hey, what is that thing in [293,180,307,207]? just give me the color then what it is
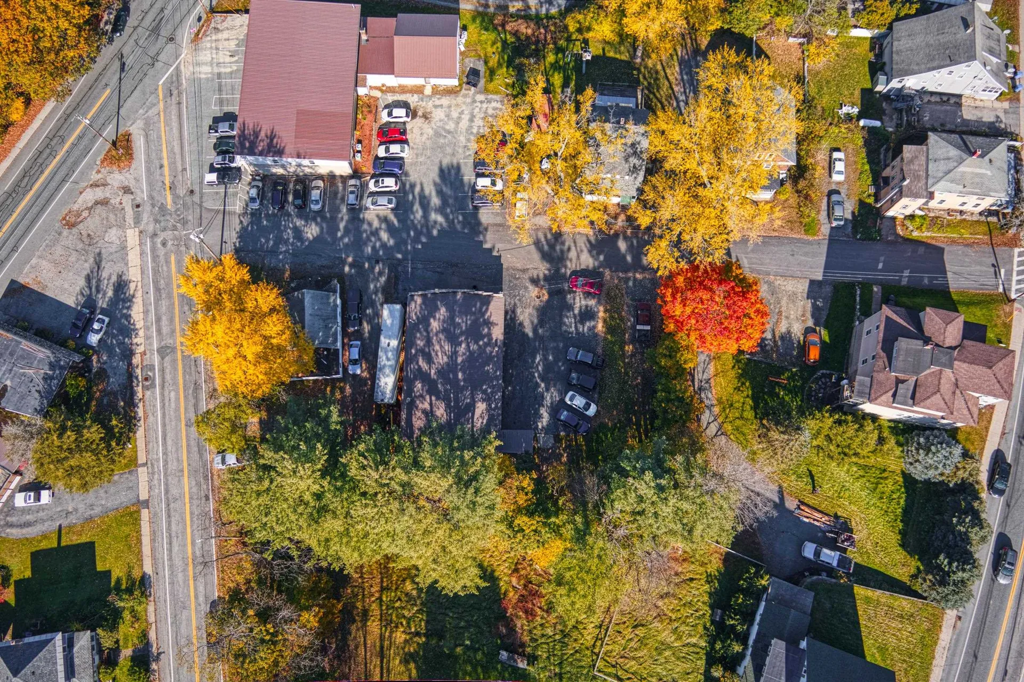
black car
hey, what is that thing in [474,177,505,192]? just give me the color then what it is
white car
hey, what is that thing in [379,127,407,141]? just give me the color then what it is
red car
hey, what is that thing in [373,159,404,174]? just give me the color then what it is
blue car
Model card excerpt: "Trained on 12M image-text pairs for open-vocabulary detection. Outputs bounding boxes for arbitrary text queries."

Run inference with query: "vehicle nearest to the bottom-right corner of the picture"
[993,545,1015,584]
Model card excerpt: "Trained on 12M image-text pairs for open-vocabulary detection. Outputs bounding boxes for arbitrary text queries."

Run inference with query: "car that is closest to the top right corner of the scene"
[828,152,845,181]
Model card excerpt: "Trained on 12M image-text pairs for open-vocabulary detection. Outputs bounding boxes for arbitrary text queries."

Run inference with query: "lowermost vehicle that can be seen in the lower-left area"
[14,489,56,507]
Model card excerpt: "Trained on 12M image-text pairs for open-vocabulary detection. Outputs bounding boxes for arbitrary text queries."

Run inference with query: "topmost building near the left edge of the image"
[0,323,96,418]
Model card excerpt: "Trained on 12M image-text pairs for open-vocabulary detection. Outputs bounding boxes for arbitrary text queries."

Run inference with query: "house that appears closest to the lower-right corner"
[717,575,897,682]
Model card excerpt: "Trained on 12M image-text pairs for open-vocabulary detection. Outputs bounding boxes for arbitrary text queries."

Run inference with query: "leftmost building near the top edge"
[236,0,365,175]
